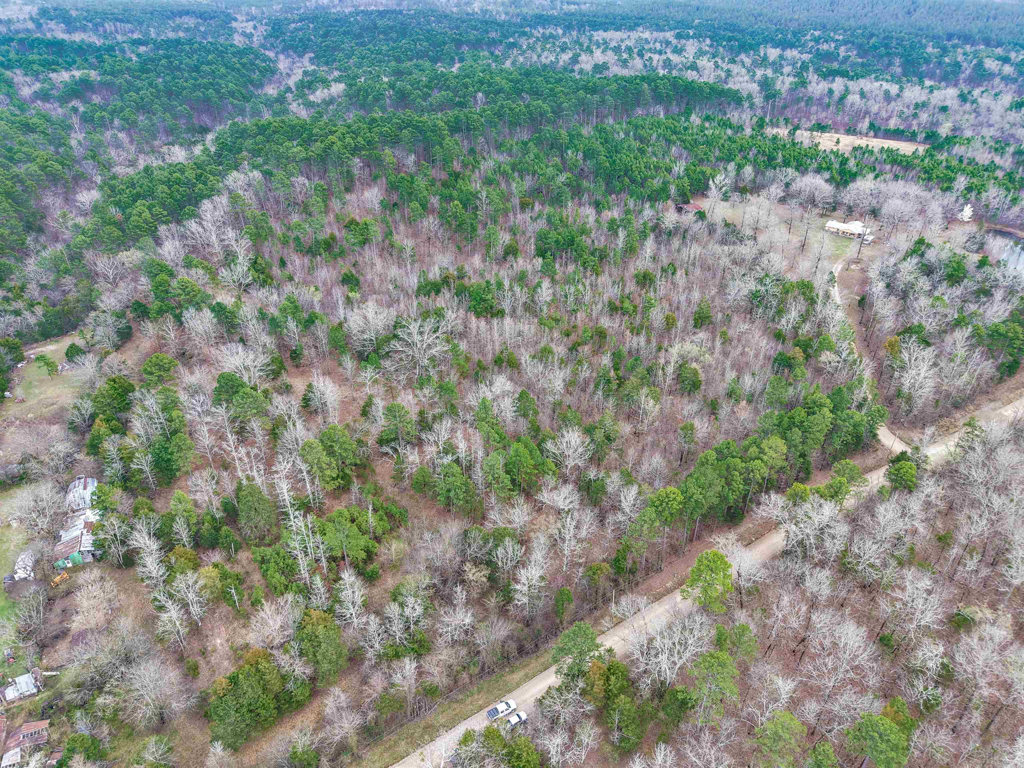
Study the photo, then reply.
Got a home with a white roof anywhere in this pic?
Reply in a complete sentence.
Yes, I can see a home with a white roof in this picture.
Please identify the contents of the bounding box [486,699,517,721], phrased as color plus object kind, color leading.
white truck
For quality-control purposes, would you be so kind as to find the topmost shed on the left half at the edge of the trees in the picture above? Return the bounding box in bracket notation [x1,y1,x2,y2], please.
[68,473,103,520]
